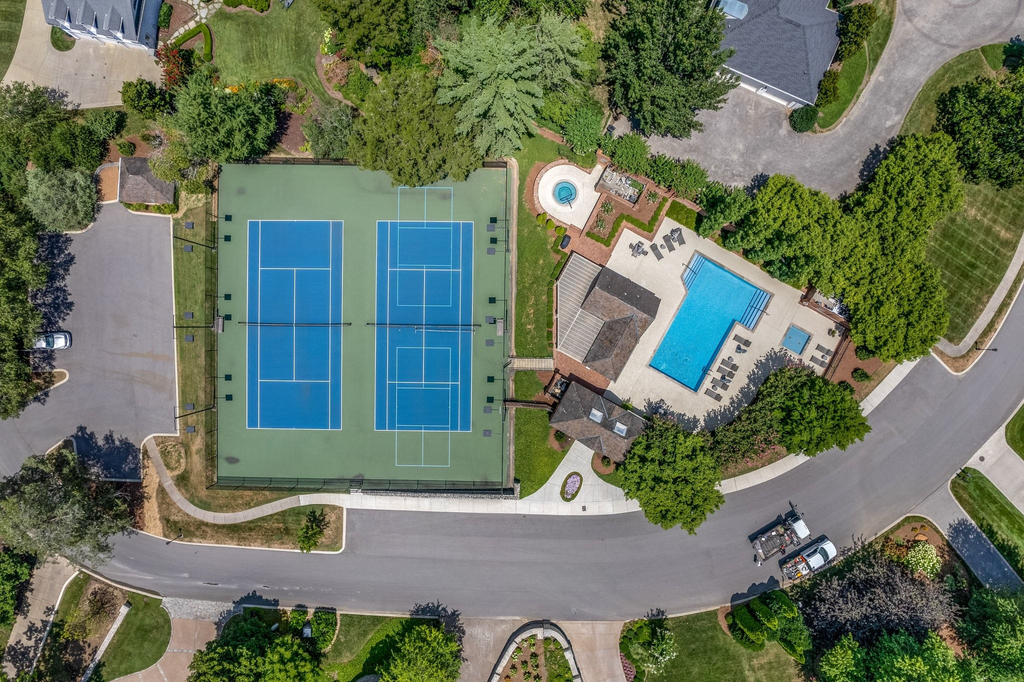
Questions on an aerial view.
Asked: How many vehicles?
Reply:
three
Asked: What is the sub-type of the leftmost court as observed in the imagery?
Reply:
tennis court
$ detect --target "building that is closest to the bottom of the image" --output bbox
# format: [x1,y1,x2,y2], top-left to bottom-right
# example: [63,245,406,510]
[548,379,648,462]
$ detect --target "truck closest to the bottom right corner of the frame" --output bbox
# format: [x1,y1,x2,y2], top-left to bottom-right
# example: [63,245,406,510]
[780,540,835,582]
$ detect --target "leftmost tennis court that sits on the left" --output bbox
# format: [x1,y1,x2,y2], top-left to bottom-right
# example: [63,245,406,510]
[216,164,359,489]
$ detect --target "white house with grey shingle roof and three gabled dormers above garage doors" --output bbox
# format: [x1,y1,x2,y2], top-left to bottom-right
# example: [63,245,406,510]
[39,0,164,63]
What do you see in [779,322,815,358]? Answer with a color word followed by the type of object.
blue swimming pool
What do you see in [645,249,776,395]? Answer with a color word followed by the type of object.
blue swimming pool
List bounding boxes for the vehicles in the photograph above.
[751,514,815,562]
[780,540,835,582]
[25,330,70,351]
